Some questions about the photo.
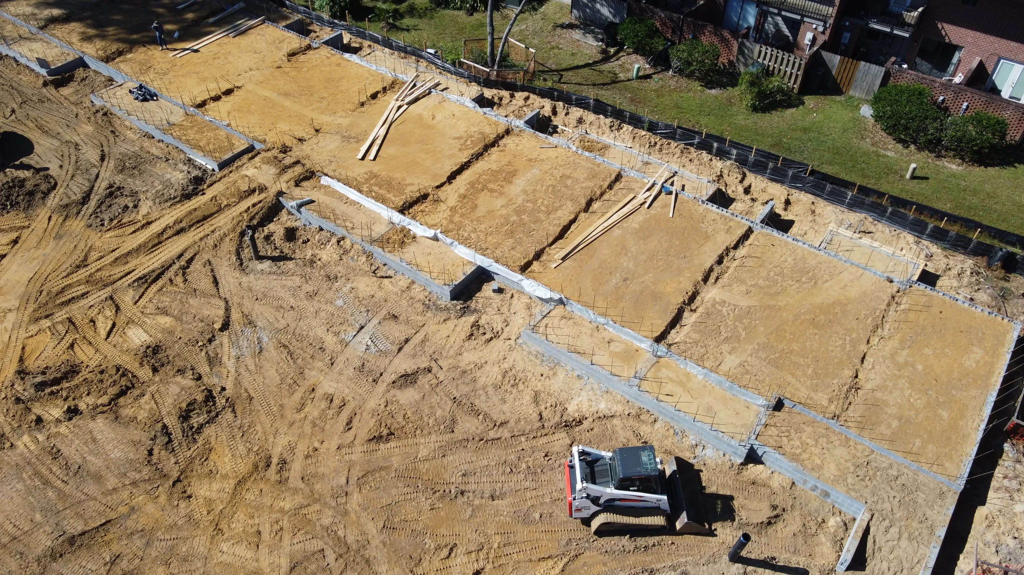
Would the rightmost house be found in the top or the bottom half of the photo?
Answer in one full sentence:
The rightmost house is in the top half of the image.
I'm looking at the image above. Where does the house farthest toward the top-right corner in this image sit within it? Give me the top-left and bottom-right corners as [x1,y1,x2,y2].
[896,0,1024,95]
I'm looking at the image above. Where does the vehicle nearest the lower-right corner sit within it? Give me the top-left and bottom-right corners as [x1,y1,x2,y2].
[565,439,711,539]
